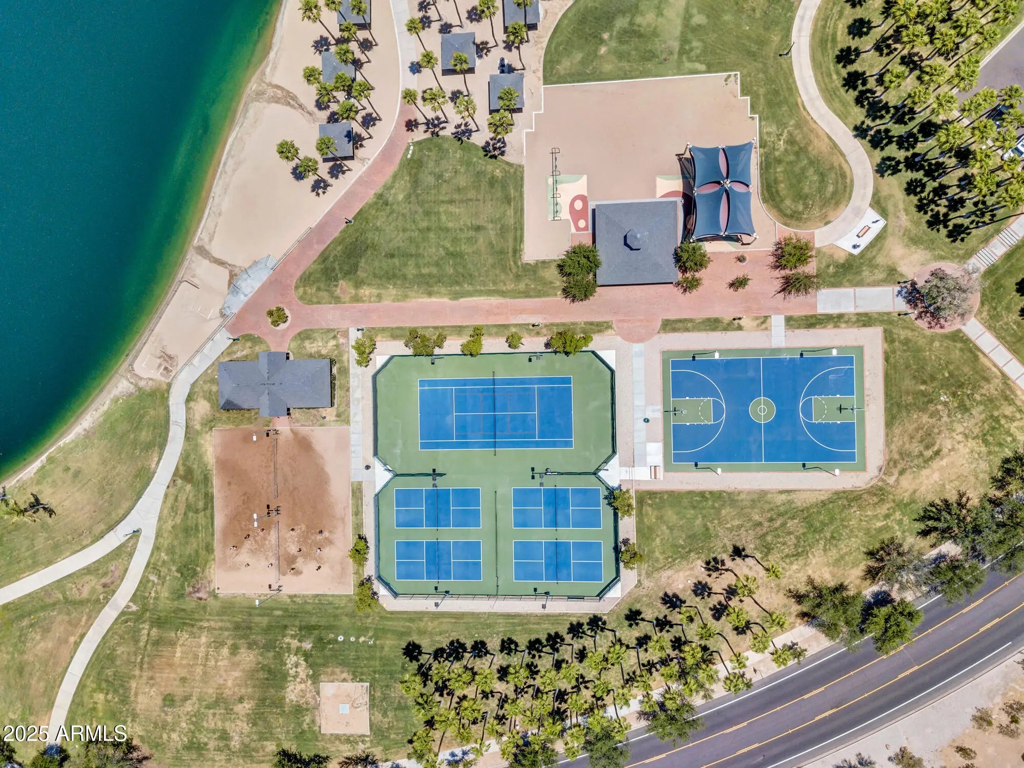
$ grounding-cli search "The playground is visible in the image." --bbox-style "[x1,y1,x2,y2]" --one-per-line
[523,72,815,261]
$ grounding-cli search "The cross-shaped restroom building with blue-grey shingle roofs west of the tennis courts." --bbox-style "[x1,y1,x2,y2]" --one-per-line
[214,352,331,417]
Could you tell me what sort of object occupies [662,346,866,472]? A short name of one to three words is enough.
basketball court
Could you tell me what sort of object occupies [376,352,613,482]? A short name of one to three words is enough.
tennis court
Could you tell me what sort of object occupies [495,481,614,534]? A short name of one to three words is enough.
sports court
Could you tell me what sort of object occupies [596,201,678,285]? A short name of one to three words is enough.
building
